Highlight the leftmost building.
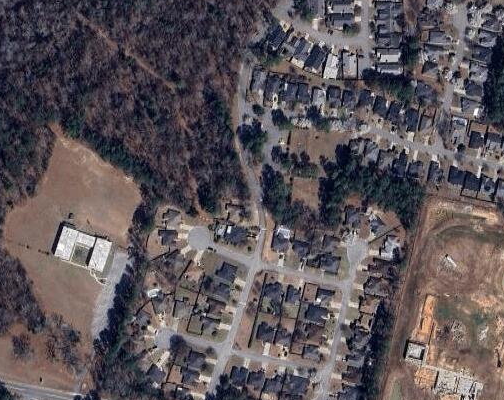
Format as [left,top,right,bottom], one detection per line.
[55,226,112,273]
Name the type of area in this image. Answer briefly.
residential area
